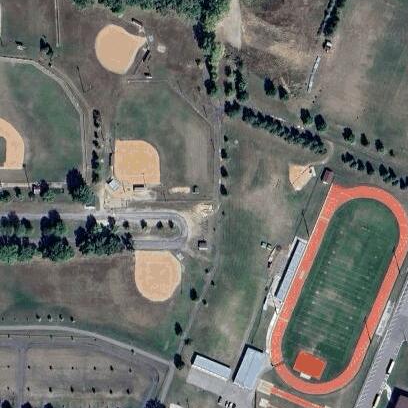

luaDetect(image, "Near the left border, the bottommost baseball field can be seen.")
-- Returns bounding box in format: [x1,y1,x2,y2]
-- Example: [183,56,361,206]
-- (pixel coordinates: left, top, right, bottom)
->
[0,68,80,181]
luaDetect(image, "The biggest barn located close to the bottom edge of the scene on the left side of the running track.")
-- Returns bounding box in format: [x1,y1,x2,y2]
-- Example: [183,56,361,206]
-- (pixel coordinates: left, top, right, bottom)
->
[234,347,266,389]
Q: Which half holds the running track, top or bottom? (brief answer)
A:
bottom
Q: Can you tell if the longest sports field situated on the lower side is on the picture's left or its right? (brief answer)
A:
right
